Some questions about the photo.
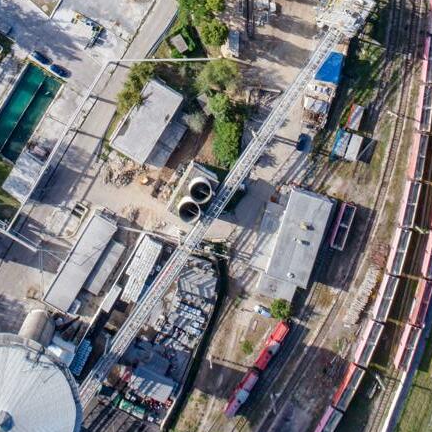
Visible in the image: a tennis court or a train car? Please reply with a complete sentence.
There is a train car in the scene.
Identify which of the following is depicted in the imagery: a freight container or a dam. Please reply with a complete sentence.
This aerial view contains a freight container.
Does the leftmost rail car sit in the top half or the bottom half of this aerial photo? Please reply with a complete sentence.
You can find the leftmost rail car in the bottom half.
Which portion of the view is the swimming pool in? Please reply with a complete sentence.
Look in the top left portion of the view to spot the swimming pool.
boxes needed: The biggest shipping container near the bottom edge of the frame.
[119,394,144,420]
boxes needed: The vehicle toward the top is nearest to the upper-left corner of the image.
[32,51,48,64]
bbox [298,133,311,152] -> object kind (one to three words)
vehicle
